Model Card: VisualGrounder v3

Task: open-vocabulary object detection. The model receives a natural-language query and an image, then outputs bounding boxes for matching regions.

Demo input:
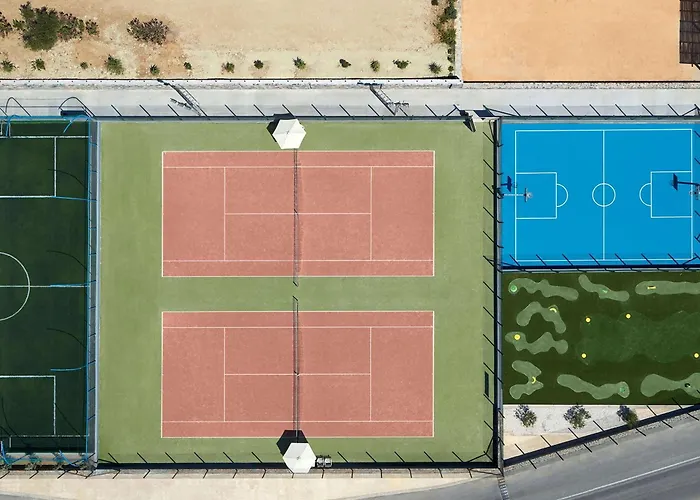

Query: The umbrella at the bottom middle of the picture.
[283,443,317,473]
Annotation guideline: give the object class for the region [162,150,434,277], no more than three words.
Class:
tennis court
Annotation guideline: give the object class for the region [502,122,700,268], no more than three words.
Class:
basketball court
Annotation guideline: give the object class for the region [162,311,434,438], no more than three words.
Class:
tennis court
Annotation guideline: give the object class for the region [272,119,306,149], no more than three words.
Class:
umbrella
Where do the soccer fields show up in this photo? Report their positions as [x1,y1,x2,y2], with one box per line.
[0,122,90,451]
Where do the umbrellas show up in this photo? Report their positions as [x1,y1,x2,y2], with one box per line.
[283,443,317,473]
[272,119,306,149]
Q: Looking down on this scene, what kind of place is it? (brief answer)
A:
sports ground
